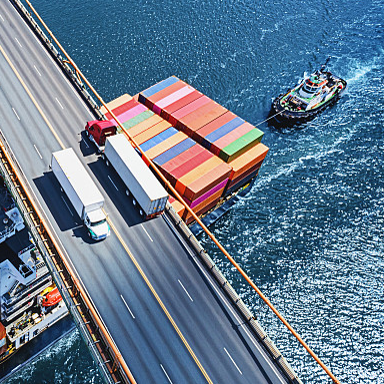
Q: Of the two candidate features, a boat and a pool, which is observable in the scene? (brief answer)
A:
boat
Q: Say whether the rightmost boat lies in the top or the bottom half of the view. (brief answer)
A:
top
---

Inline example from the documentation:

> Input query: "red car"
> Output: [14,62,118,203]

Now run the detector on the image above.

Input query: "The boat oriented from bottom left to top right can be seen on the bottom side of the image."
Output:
[40,290,63,309]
